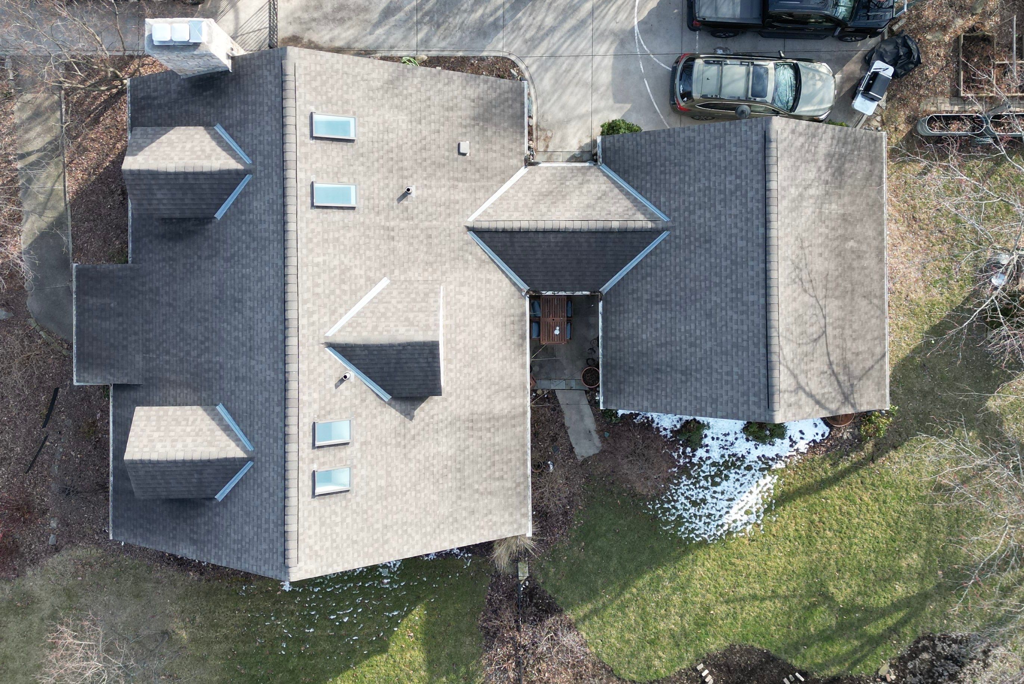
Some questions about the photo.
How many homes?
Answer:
1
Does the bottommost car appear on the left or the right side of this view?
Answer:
right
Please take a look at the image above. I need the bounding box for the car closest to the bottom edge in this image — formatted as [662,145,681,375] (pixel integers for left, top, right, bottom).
[667,45,840,123]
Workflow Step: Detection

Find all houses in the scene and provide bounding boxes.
[71,17,894,582]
